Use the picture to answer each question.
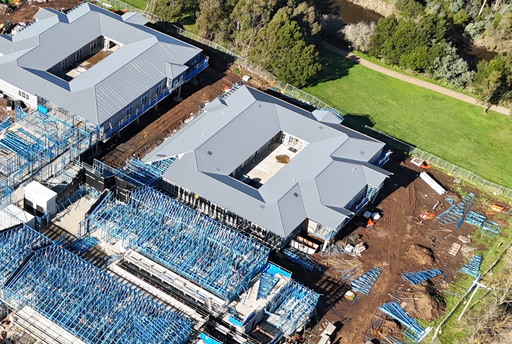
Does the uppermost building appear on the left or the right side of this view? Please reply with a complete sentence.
The uppermost building is on the left side of the image.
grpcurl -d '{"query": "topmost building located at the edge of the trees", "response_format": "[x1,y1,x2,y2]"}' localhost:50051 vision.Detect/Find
[0,6,208,150]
